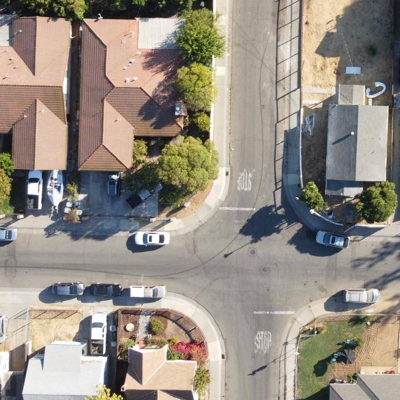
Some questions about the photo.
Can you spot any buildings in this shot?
Yes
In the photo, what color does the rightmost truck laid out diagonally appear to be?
black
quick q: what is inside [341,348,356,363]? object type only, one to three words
umbrella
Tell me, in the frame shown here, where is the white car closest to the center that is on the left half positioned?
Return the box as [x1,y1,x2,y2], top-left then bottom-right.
[135,230,171,247]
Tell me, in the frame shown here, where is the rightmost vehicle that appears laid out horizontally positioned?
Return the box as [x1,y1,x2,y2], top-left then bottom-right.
[342,288,380,305]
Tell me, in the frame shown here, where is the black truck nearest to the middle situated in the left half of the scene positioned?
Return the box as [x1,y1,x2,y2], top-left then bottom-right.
[124,179,161,213]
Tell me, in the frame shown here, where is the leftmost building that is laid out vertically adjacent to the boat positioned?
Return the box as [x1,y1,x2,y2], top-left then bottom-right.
[0,15,75,170]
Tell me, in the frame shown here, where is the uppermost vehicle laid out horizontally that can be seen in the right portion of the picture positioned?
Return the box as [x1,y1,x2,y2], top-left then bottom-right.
[315,230,351,249]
